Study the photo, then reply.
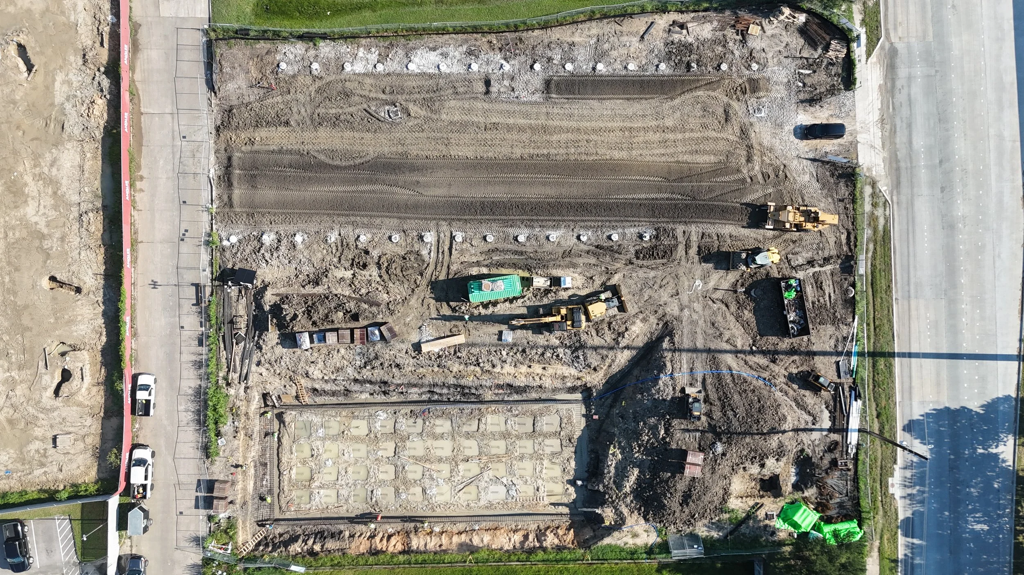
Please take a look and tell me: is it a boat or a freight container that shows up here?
freight container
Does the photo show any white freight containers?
No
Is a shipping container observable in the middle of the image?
Yes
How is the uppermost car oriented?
from side to side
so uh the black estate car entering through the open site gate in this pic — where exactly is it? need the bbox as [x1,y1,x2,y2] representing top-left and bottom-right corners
[801,121,846,142]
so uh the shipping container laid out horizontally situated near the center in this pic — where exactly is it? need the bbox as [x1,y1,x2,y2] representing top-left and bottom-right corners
[468,275,522,302]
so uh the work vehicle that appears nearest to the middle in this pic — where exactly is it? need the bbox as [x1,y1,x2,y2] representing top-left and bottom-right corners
[511,305,585,331]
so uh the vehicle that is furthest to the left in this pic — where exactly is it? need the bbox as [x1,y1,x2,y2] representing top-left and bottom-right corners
[5,516,34,571]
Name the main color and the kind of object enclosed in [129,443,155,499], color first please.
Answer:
white truck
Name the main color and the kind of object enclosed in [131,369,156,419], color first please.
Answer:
white truck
